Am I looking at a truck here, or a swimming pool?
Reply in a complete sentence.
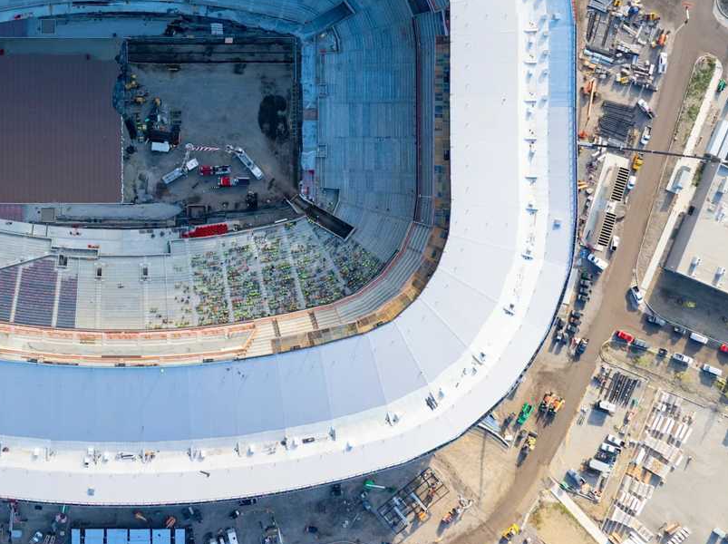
The image shows a truck.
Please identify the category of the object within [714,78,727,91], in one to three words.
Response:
vehicle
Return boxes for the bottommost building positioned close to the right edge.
[662,162,728,293]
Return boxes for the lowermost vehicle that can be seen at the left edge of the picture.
[28,529,44,544]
